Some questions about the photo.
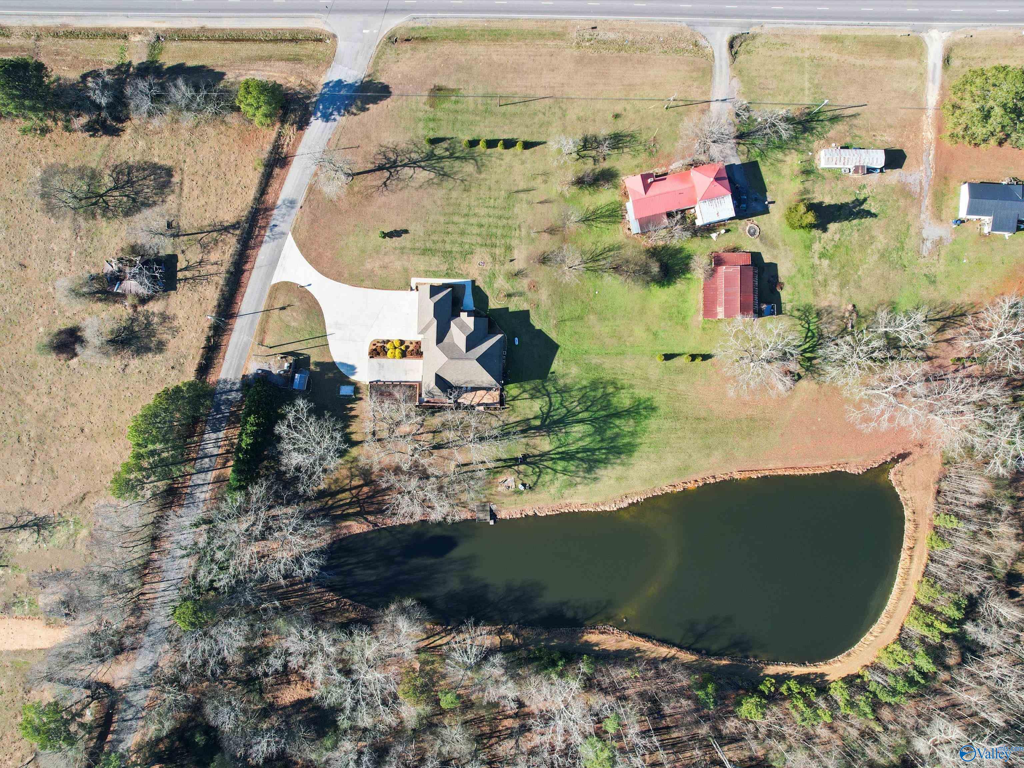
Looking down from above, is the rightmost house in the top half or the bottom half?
top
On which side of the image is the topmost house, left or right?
right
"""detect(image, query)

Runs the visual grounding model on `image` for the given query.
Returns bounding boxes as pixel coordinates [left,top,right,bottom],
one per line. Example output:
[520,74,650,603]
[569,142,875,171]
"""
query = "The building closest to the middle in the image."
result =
[418,283,503,397]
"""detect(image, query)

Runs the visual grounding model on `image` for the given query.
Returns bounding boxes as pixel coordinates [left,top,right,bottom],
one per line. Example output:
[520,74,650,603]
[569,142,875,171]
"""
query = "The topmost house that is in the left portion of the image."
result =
[102,254,170,294]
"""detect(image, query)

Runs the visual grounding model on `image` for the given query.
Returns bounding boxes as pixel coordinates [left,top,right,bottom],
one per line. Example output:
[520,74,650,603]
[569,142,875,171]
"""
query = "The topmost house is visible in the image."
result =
[820,149,885,176]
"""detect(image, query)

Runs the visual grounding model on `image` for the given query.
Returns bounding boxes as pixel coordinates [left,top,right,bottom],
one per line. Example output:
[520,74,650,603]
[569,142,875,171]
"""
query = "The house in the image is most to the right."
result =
[961,183,1024,233]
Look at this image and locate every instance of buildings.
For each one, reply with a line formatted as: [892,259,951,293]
[293,374,309,390]
[961,183,1024,233]
[624,162,735,234]
[418,283,503,397]
[820,149,885,176]
[703,266,758,319]
[102,254,170,294]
